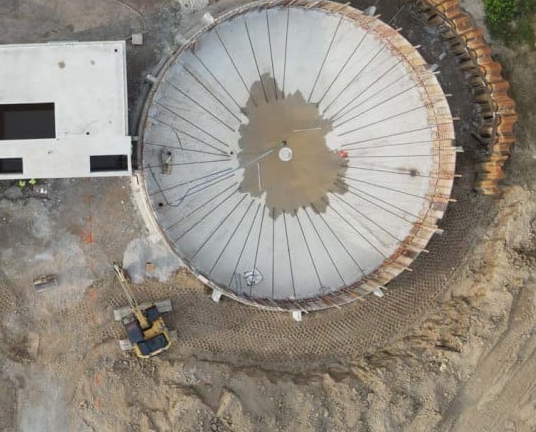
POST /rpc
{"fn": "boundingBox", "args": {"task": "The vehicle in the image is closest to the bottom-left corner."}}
[113,261,177,358]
